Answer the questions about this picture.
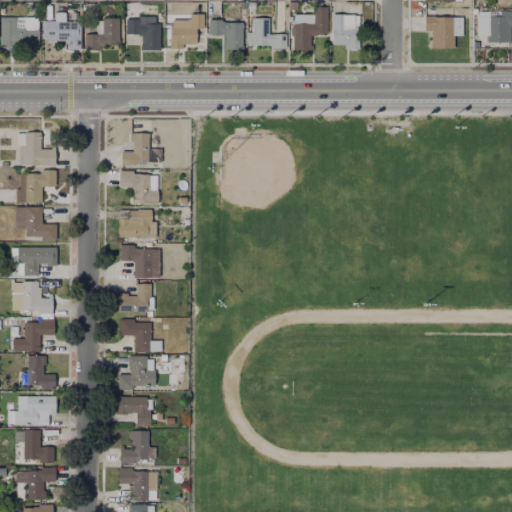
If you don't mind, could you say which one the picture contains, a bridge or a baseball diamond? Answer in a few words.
baseball diamond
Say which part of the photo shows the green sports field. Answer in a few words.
bottom right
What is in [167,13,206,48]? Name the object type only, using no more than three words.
house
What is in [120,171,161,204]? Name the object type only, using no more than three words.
house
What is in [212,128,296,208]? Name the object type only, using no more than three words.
baseball field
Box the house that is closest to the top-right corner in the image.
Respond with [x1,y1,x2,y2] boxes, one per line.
[478,13,512,43]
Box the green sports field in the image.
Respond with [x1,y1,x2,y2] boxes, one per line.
[238,322,512,454]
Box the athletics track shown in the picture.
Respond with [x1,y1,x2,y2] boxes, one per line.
[223,308,512,468]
